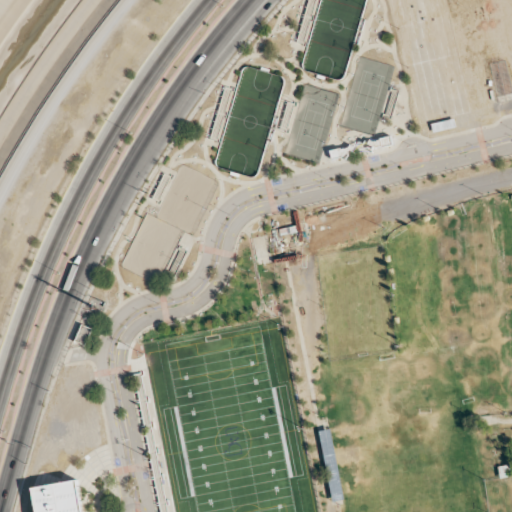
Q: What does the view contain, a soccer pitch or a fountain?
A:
soccer pitch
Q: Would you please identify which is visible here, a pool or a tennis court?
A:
tennis court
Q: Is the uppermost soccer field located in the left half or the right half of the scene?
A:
right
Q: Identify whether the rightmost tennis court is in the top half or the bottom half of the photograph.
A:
top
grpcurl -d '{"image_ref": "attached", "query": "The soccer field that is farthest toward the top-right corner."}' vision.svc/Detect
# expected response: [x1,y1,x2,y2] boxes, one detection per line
[303,0,363,78]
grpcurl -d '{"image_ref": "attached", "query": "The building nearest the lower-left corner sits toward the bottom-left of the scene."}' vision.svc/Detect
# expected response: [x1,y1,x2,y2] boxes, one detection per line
[28,481,83,512]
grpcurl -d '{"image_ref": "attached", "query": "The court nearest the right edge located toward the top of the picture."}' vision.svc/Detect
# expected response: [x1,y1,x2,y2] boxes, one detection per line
[340,57,392,134]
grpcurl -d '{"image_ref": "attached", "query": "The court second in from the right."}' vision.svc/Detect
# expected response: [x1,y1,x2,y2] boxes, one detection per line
[284,83,336,162]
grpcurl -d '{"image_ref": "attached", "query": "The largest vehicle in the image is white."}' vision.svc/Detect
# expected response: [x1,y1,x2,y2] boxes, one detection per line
[64,256,81,290]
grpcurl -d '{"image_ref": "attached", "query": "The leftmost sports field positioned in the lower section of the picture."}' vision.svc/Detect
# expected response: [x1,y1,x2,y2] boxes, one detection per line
[144,318,316,512]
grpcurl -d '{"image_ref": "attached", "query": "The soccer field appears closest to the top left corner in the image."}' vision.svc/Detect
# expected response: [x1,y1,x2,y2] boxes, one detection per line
[216,67,280,177]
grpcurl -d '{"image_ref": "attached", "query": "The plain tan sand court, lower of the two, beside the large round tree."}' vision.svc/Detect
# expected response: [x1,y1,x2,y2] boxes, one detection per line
[122,214,184,278]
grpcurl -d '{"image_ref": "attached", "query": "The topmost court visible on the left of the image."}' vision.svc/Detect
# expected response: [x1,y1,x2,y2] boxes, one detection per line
[159,165,218,234]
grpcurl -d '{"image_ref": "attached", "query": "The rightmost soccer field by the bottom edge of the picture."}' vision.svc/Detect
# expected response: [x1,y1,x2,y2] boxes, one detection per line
[345,352,482,510]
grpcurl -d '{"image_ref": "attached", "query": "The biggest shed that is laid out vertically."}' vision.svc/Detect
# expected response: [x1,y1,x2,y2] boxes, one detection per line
[320,429,343,502]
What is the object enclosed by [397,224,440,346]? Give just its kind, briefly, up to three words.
soccer field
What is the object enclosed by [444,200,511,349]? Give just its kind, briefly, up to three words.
sports field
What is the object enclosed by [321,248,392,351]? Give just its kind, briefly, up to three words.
soccer field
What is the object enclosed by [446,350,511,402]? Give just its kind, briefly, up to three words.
sports field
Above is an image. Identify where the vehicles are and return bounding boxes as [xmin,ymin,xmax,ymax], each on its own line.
[300,306,305,316]
[194,54,206,66]
[263,2,271,10]
[64,256,81,290]
[10,460,16,469]
[93,237,100,246]
[2,489,8,498]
